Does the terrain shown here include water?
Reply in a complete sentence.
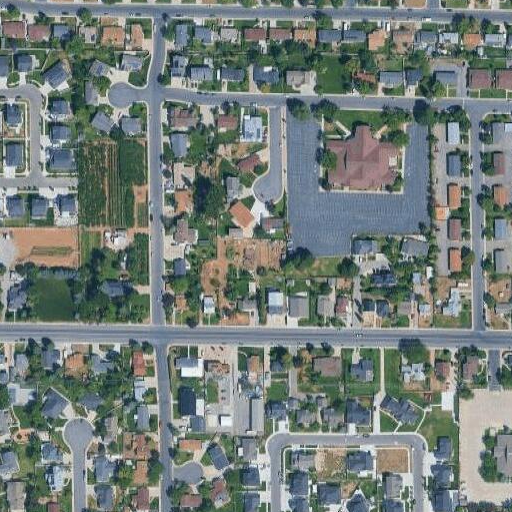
No, no water is visible.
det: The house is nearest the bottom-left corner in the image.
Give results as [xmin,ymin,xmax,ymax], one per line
[7,482,25,511]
